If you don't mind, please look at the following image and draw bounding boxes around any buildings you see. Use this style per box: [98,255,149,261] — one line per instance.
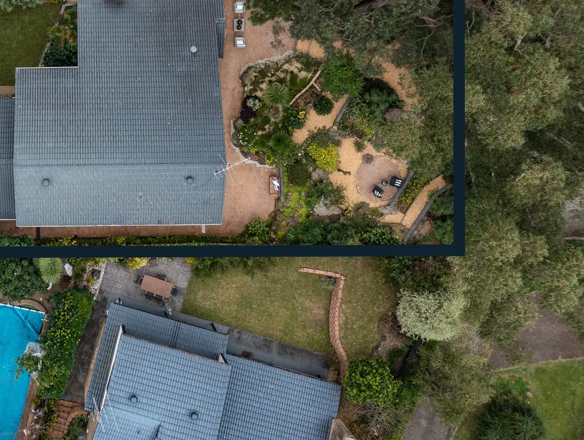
[0,0,226,227]
[69,285,342,440]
